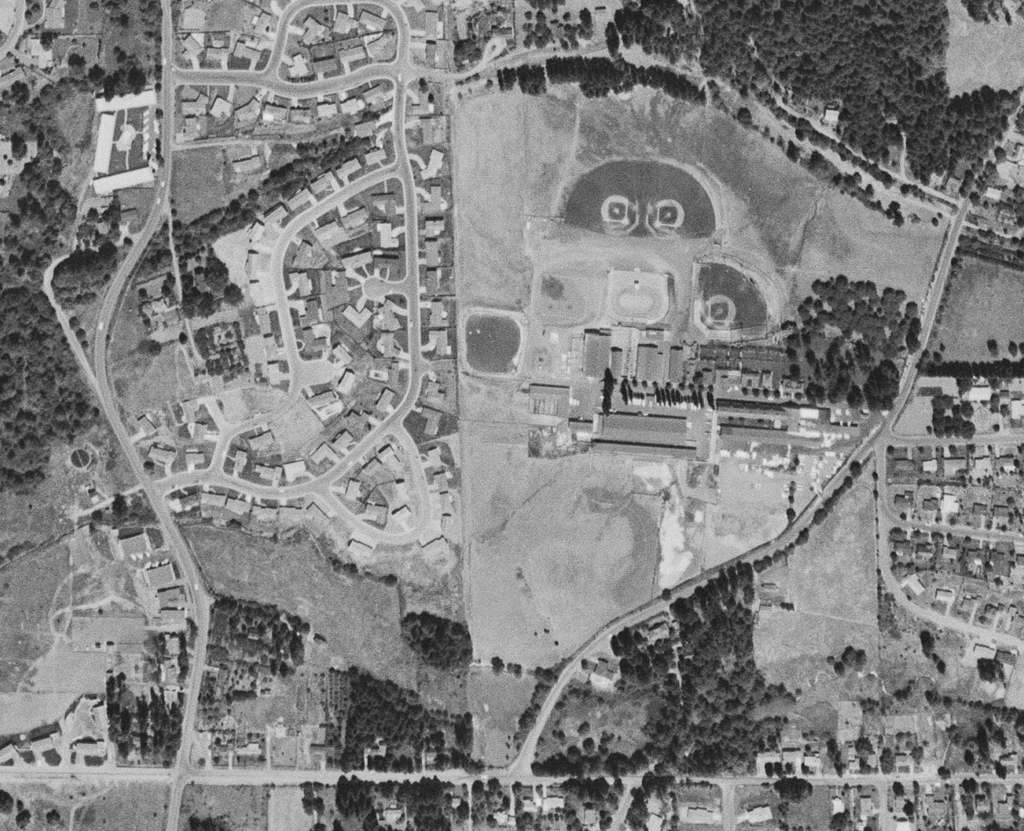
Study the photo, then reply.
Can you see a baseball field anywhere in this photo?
Yes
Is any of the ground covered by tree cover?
Yes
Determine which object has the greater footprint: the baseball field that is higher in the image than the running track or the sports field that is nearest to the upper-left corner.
the baseball field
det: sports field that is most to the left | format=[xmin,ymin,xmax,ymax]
[466,314,520,372]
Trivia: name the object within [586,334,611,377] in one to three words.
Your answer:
building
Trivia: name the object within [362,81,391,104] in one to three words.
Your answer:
house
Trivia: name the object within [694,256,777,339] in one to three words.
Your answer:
baseball field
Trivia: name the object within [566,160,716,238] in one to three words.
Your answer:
baseball field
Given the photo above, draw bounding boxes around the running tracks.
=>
[609,271,675,322]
